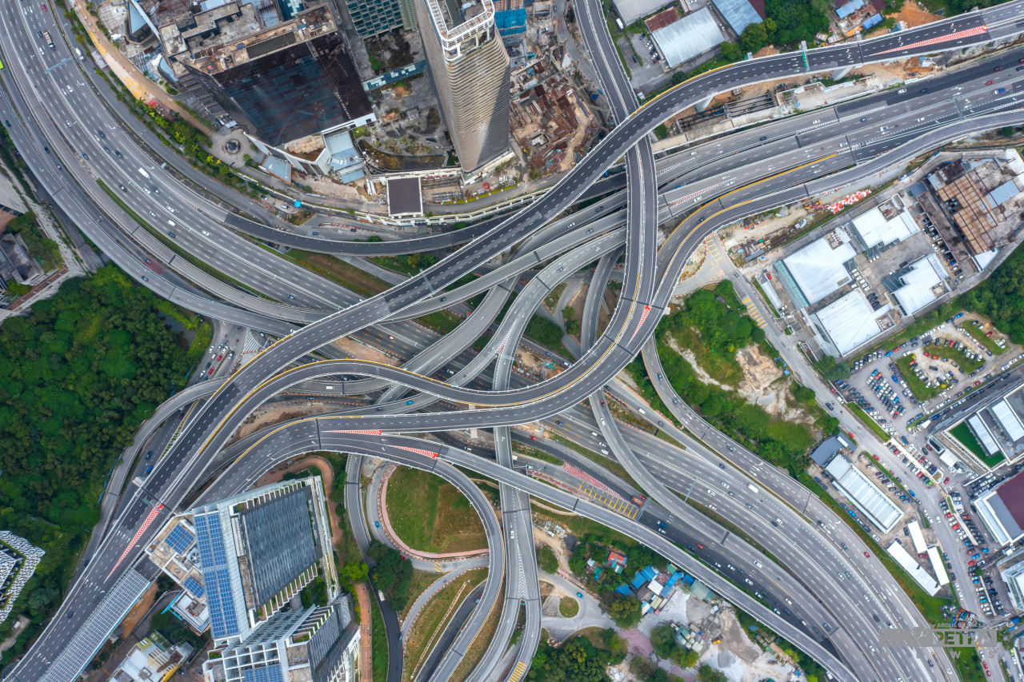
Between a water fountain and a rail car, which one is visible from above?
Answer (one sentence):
Visible in the photo is a water fountain.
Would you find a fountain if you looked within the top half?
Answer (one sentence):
Yes, there is a fountain within the top half.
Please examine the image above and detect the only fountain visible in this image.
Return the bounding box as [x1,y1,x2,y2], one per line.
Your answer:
[213,128,255,166]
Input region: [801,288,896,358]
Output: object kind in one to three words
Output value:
building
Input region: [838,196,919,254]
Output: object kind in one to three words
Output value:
building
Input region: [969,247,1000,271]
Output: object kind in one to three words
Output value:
shed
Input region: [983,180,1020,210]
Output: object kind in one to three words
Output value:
shed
